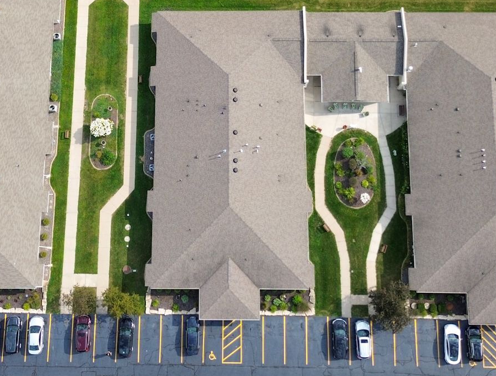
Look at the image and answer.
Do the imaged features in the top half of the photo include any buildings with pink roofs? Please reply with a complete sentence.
No, no building with a pink roof appears in the top half of the photo.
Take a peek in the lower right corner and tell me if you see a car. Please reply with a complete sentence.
Yes, you'll find a car in the lower right corner.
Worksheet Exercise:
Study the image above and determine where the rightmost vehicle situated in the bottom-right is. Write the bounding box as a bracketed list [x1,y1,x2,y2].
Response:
[464,324,485,362]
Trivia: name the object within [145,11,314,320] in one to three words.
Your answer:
building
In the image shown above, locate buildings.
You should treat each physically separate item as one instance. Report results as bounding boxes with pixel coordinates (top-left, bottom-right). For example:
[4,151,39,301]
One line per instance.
[0,0,60,288]
[145,11,314,320]
[403,12,496,325]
